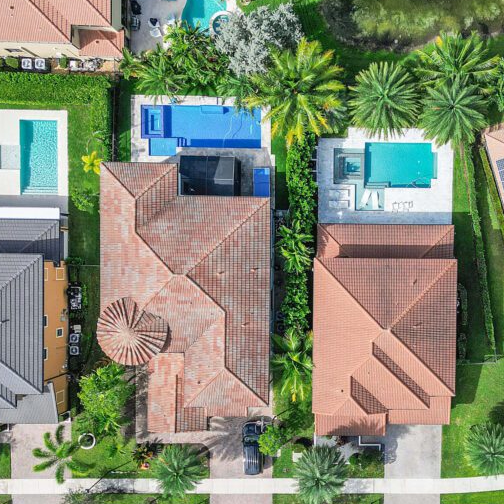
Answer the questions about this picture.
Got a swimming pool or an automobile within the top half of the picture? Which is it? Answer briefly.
swimming pool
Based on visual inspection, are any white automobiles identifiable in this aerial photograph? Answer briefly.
No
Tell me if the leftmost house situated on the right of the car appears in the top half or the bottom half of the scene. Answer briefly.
bottom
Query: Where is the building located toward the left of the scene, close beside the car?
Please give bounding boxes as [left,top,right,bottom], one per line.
[96,161,274,433]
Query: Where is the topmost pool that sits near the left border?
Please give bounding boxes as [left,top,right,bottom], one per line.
[0,120,58,194]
